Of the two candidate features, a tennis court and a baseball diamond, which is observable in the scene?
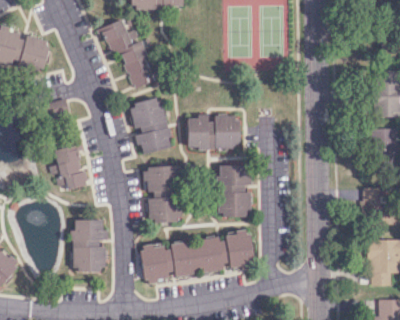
tennis court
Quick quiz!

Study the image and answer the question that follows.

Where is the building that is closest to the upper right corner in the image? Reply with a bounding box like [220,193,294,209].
[377,83,400,117]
